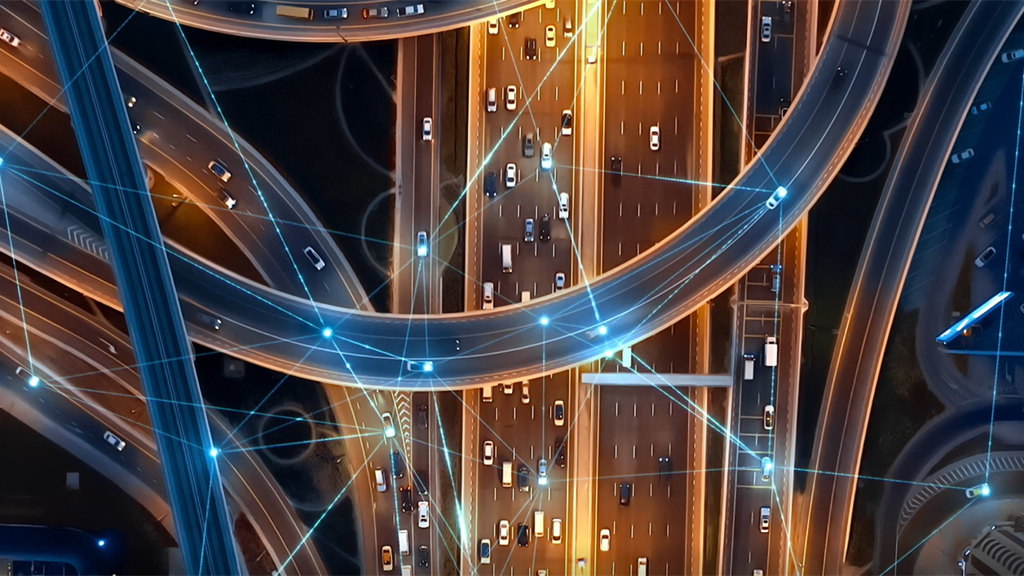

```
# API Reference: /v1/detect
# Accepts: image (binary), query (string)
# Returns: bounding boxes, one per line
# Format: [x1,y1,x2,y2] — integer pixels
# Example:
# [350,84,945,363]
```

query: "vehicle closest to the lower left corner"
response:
[101,430,128,451]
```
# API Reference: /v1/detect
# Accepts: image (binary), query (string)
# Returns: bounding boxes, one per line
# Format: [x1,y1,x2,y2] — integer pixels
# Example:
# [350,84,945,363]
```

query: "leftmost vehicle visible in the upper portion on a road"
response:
[0,27,23,48]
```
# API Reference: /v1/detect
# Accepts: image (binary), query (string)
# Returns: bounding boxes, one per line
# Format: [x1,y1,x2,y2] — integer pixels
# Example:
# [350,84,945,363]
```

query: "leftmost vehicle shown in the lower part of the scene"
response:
[14,366,41,386]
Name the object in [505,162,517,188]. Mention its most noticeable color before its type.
white vehicle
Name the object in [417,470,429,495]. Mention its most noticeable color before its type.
black vehicle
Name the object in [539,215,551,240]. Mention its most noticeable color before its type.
black vehicle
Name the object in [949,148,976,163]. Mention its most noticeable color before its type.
blue car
